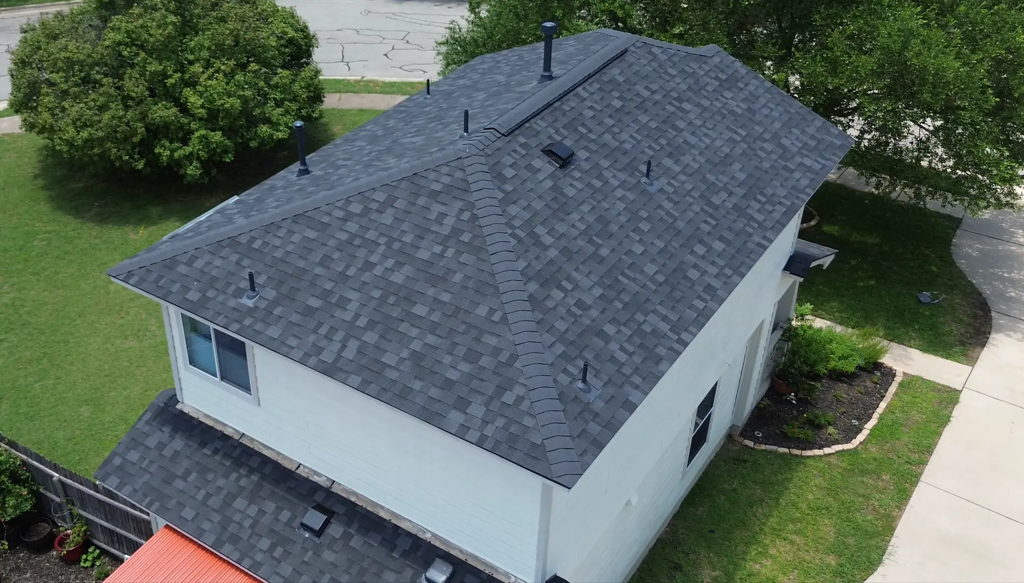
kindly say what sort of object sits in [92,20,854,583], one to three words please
house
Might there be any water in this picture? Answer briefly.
No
